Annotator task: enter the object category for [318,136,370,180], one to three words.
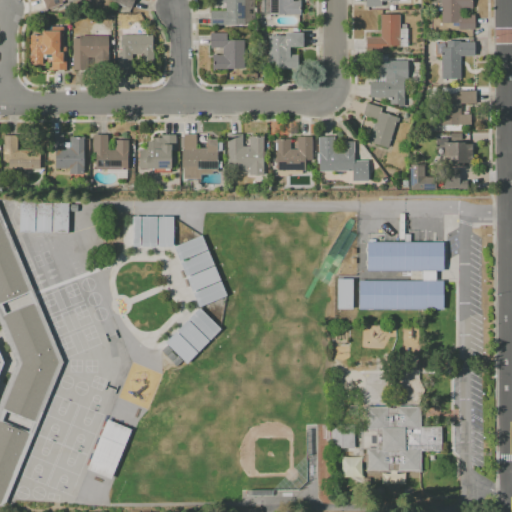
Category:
house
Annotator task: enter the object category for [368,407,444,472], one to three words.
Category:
building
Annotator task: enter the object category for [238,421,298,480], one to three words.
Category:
baseball field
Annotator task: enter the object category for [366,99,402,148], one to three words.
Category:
house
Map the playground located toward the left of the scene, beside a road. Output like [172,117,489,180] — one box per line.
[0,200,163,503]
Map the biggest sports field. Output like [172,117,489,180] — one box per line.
[110,212,333,502]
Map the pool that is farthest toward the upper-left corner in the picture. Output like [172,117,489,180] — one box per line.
[94,172,118,184]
